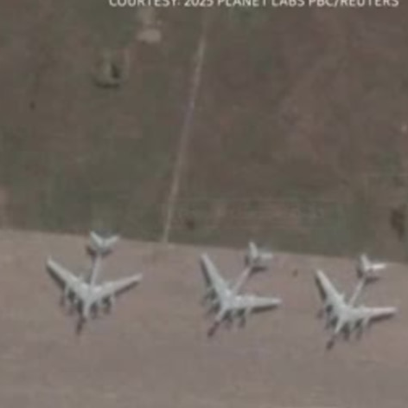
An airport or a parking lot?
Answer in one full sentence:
The picture captures an airport.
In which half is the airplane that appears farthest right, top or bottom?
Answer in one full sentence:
The airplane that appears farthest right is in the bottom half of the image.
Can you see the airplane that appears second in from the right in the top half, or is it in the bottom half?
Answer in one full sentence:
The airplane that appears second in from the right is in the bottom half of the image.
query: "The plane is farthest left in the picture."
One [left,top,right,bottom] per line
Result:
[48,231,141,327]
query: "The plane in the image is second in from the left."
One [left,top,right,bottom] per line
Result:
[200,241,281,331]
